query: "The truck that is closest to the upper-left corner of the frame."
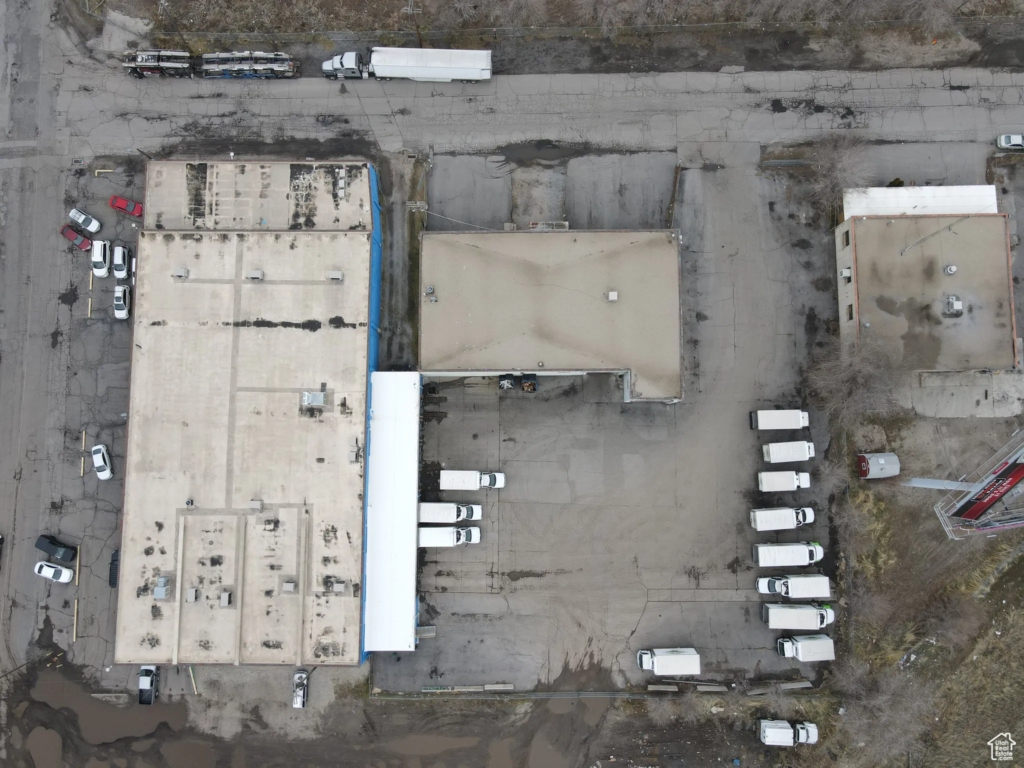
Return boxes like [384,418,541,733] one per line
[121,52,207,84]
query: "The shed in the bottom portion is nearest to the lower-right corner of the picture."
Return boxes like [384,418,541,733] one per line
[858,452,910,480]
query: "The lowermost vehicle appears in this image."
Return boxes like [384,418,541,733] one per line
[743,717,815,745]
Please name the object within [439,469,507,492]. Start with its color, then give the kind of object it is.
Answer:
white truck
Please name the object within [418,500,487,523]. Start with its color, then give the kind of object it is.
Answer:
white truck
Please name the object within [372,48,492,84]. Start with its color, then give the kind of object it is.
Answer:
white trailer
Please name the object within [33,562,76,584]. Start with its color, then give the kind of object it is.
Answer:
white car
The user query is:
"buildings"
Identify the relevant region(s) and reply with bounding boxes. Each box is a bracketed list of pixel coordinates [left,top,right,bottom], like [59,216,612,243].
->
[836,214,1018,375]
[115,181,381,665]
[419,230,683,407]
[858,452,910,480]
